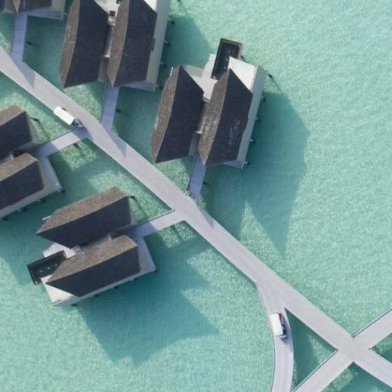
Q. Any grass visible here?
No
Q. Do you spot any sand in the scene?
Yes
